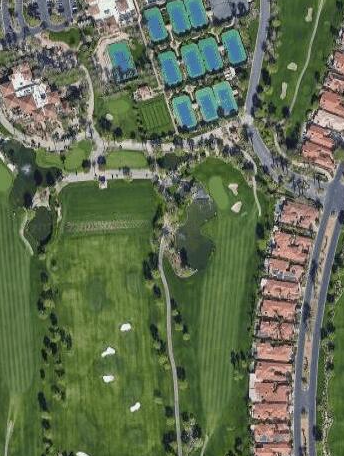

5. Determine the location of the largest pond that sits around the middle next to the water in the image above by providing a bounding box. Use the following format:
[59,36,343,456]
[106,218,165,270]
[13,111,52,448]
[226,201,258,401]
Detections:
[176,196,217,274]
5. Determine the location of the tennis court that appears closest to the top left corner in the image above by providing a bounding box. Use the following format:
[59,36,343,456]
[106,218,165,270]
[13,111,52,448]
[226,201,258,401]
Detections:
[108,42,135,76]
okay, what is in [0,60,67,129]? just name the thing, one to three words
building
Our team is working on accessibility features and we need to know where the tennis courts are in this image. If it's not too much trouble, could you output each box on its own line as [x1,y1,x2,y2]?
[199,38,222,72]
[185,0,207,27]
[159,51,183,84]
[182,44,203,77]
[223,30,245,63]
[195,87,219,121]
[167,0,191,32]
[173,95,196,128]
[144,7,167,41]
[213,81,236,115]
[210,0,233,20]
[108,42,135,76]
